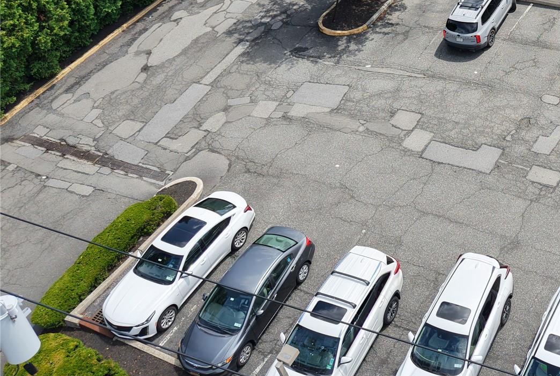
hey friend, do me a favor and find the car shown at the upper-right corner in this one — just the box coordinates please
[440,0,518,55]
